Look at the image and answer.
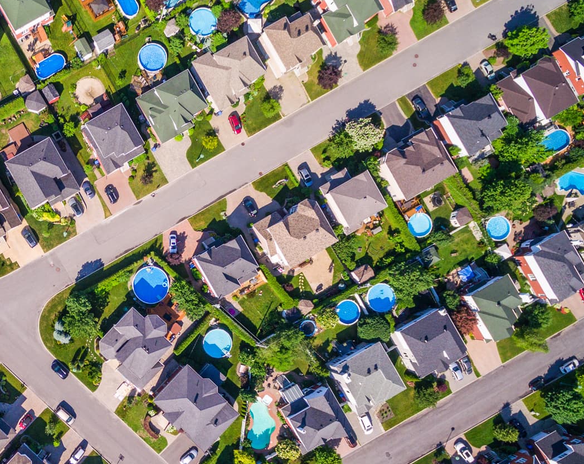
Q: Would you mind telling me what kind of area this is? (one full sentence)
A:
This image shows a residential area.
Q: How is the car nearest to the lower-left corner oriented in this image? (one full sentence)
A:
The car nearest to the lower-left corner is laid out at an angle.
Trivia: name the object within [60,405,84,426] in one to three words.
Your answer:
car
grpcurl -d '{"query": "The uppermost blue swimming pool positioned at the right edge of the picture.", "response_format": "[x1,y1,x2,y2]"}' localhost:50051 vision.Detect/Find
[541,126,571,155]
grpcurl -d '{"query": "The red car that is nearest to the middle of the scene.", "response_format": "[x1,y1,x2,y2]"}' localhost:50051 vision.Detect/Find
[226,112,242,138]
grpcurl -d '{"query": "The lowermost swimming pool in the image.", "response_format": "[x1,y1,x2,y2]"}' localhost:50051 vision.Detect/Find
[246,399,277,451]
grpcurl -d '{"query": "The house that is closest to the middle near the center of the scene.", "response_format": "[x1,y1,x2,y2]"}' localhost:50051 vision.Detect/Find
[250,199,337,266]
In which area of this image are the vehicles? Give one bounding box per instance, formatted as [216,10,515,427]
[167,230,180,254]
[241,195,260,219]
[52,356,71,379]
[575,287,584,305]
[80,178,96,203]
[506,416,530,440]
[440,0,458,16]
[60,405,84,426]
[356,413,374,437]
[411,95,430,120]
[16,411,38,434]
[21,225,38,250]
[455,353,475,378]
[450,439,475,464]
[70,442,91,462]
[226,112,242,138]
[67,195,85,219]
[555,355,580,376]
[103,183,119,206]
[296,165,314,188]
[445,359,465,384]
[179,444,197,464]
